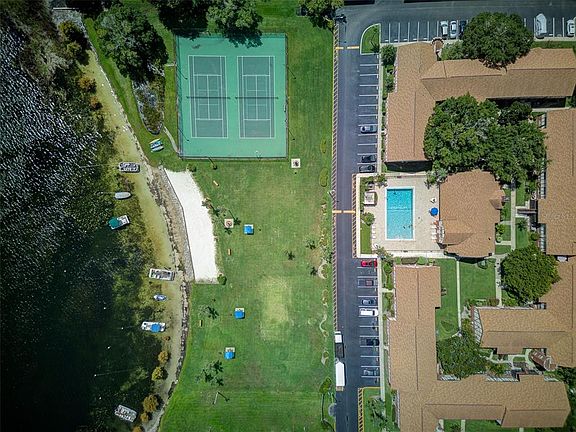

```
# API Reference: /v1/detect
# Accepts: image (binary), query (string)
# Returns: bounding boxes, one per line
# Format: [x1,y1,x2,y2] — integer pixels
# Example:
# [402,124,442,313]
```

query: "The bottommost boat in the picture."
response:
[114,404,137,422]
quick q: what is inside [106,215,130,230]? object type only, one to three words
boat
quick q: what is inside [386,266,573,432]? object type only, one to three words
building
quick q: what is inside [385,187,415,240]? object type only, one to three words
swimming pool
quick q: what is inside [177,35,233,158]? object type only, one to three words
tennis court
